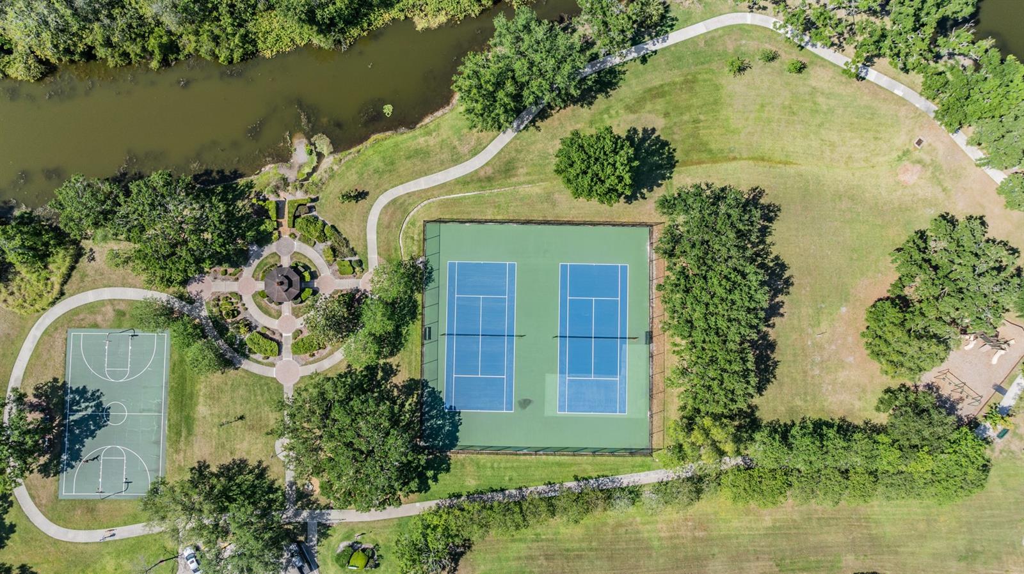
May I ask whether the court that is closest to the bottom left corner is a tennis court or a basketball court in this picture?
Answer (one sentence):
Specifically, the court that is closest to the bottom left corner is a basketball court.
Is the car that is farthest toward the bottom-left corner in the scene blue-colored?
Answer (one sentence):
No, from above the car that is farthest toward the bottom-left corner looks white.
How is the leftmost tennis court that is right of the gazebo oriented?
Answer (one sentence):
From this overhead view, the leftmost tennis court that is right of the gazebo appears to run up and down.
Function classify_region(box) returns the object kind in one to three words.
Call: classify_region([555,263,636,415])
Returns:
tennis court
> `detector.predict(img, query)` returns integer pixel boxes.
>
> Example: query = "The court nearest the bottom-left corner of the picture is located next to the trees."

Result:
[59,329,170,500]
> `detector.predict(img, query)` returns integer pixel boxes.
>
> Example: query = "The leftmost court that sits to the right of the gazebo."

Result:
[444,261,516,412]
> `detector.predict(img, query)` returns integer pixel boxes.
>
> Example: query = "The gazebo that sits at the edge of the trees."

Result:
[266,267,304,301]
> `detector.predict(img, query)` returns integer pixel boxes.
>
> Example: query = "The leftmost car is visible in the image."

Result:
[182,545,202,574]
